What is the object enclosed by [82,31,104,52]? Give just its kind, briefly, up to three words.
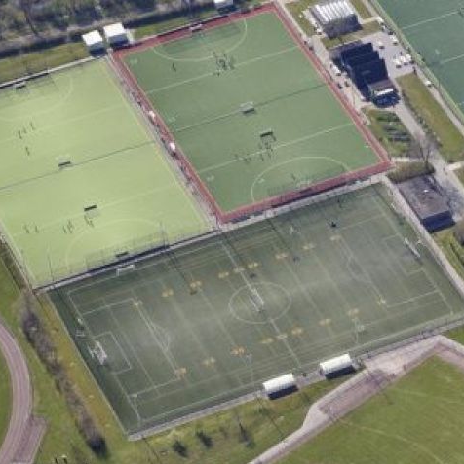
building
